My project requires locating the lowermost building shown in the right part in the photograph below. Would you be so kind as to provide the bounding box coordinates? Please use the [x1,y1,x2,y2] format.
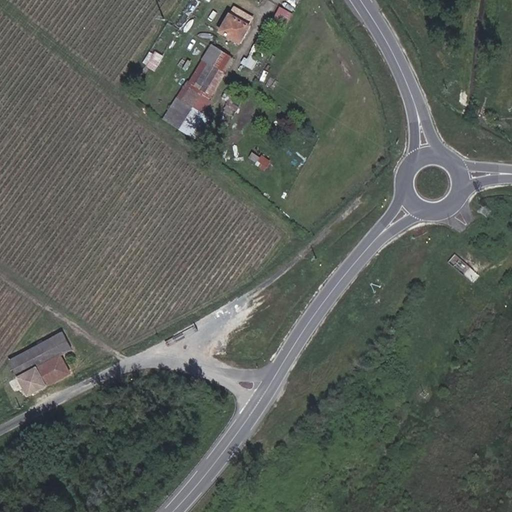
[448,253,480,283]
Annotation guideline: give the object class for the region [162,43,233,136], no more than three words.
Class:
barn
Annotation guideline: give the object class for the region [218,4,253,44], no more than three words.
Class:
house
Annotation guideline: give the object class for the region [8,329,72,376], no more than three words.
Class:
shed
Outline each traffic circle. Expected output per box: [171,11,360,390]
[376,112,512,246]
